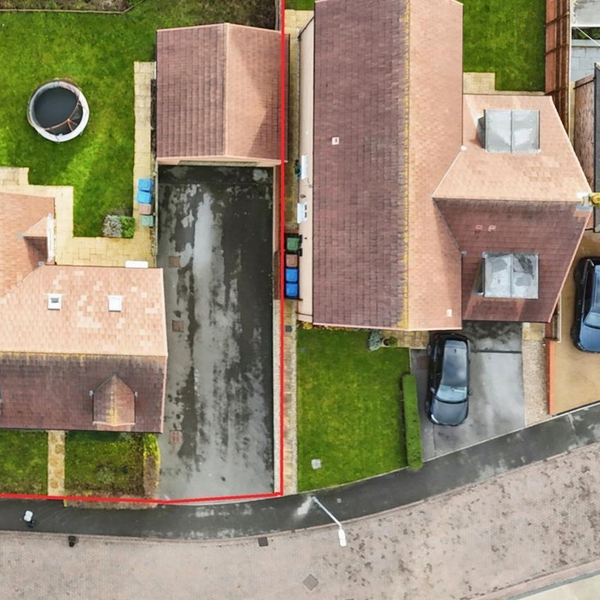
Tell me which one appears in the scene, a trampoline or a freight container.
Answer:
trampoline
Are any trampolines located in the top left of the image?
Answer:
Yes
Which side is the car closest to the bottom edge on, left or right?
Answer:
right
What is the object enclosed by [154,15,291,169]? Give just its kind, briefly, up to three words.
building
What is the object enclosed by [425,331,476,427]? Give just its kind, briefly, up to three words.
car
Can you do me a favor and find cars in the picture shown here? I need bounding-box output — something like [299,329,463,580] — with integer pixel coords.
[570,257,600,353]
[425,331,476,427]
